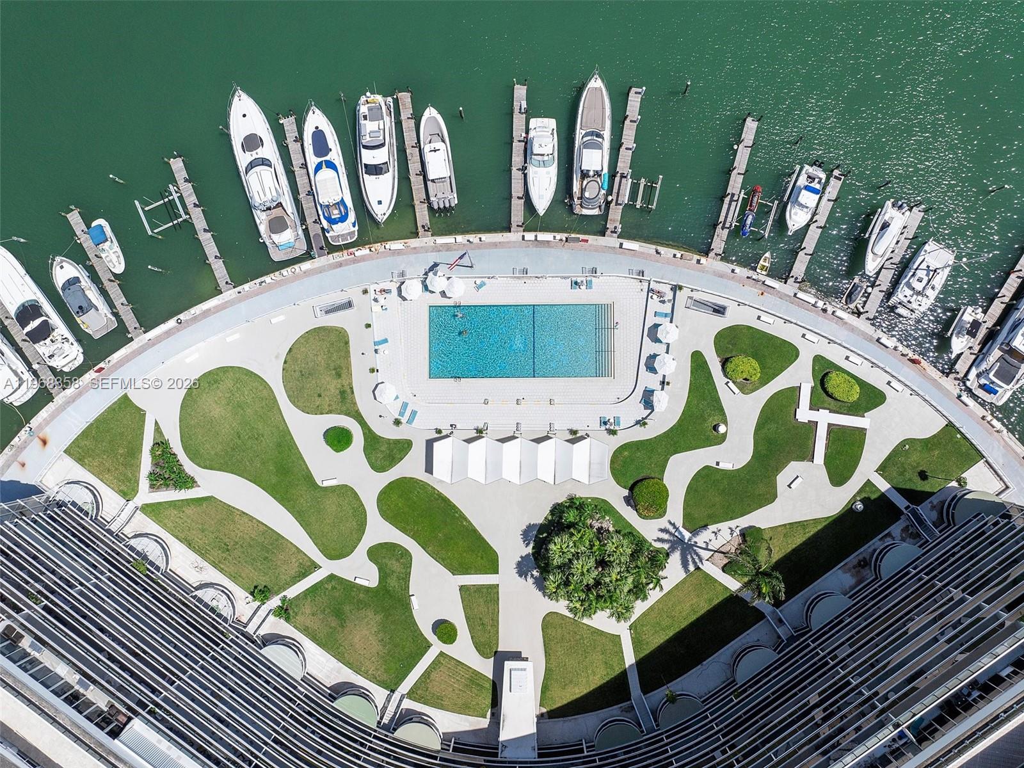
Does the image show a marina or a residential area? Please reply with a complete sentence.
This image shows a marina.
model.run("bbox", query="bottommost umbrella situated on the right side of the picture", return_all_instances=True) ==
[649,391,670,412]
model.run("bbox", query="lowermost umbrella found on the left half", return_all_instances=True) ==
[375,382,397,404]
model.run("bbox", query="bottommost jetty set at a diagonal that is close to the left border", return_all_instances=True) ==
[0,299,64,402]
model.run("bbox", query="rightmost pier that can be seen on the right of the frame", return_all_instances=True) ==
[947,242,1024,381]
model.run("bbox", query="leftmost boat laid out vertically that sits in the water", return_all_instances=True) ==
[0,327,39,410]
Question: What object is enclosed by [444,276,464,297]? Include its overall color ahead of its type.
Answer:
white umbrella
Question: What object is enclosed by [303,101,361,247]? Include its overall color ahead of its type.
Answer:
white boat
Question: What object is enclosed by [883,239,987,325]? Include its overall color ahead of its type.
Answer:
white boat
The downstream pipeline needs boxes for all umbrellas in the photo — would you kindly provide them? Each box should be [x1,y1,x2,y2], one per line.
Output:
[444,276,464,297]
[655,353,676,375]
[649,391,670,412]
[375,382,397,404]
[656,322,678,344]
[401,278,424,301]
[426,271,447,292]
